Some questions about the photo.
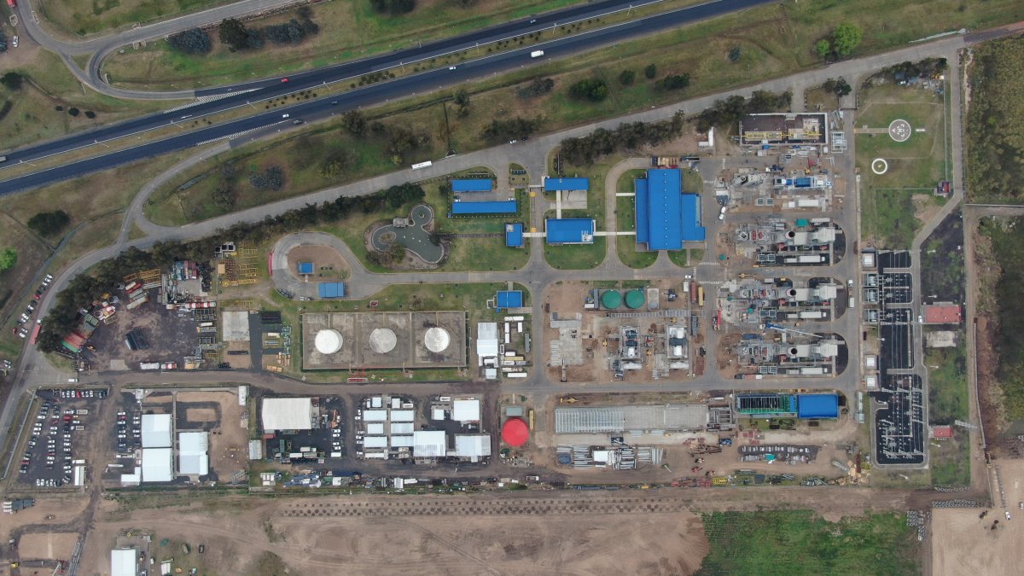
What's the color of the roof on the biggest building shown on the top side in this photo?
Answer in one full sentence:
The color of the roof on the biggest building shown on the top side is blue.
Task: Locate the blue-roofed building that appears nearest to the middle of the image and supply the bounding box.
[496,291,522,308]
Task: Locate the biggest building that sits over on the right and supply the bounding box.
[634,169,705,251]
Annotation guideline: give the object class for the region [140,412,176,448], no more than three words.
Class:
building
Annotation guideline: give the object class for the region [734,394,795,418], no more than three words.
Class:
shed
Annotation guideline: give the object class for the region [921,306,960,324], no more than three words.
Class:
house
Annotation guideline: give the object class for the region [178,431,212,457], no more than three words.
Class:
building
